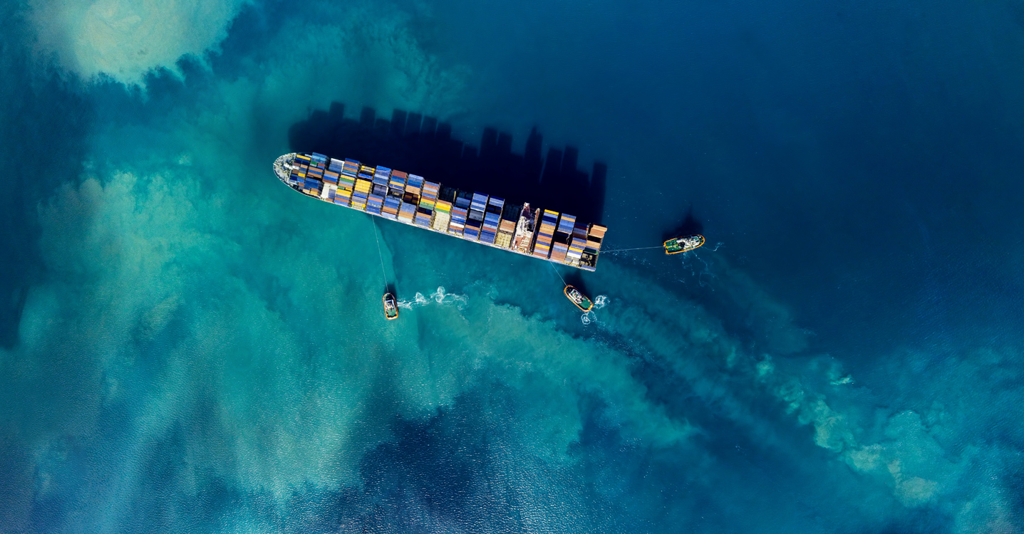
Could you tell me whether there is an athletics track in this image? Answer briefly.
No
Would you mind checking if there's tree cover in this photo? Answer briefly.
No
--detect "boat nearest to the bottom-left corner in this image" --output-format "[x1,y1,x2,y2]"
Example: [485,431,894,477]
[383,292,398,320]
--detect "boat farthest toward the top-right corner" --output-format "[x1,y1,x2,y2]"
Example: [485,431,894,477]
[665,236,705,254]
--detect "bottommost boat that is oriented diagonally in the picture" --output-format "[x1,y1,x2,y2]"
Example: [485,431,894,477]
[564,285,595,315]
